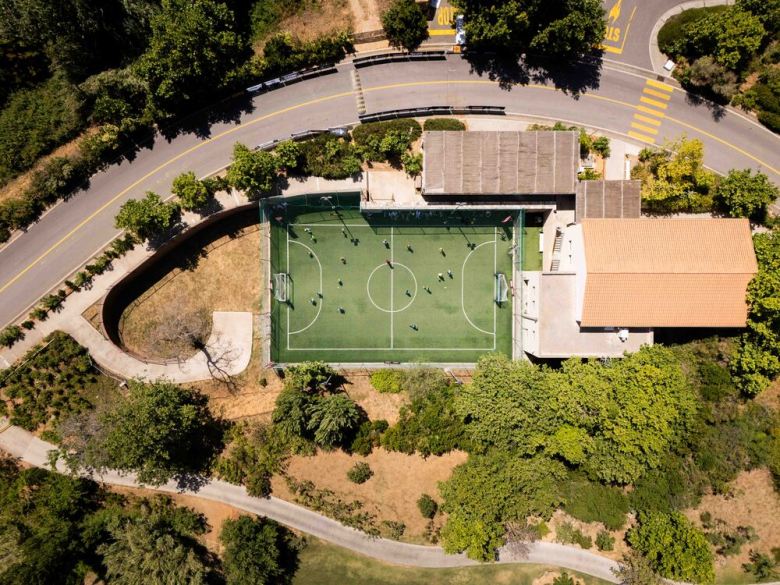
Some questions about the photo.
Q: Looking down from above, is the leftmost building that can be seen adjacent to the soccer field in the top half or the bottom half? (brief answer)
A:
top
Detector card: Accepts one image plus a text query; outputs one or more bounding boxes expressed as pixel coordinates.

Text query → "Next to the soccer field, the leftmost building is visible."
[423,132,579,203]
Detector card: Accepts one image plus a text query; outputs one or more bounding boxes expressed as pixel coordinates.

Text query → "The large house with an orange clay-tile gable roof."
[561,218,757,328]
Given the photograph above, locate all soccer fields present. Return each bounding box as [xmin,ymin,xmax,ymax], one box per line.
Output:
[263,197,522,369]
